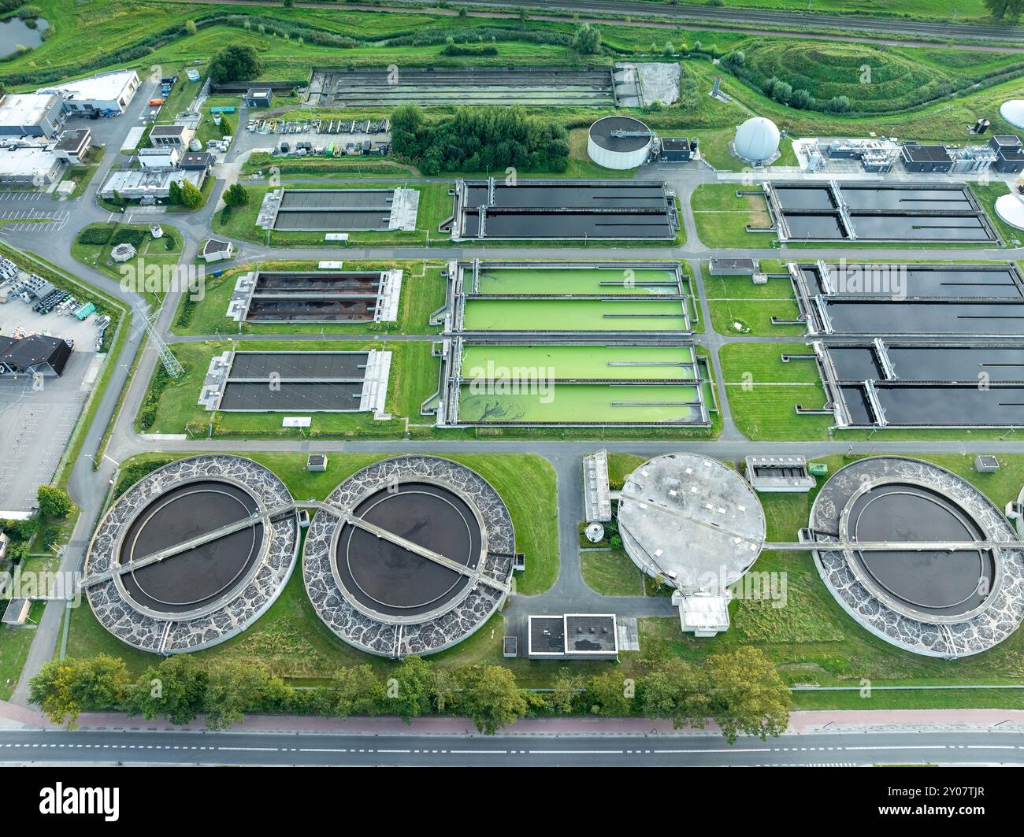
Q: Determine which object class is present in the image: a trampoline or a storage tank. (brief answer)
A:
storage tank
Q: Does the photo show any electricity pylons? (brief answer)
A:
Yes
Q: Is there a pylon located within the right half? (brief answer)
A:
No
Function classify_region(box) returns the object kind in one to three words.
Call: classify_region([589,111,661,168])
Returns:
storage tank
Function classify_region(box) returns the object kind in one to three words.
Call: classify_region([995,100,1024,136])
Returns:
storage tank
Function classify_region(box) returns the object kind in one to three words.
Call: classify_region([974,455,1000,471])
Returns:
shed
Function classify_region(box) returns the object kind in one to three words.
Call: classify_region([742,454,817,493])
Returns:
building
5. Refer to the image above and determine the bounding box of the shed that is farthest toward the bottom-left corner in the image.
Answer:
[1,598,32,625]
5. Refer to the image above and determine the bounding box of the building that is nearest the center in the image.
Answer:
[582,448,611,526]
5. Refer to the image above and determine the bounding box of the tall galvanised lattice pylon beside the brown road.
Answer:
[107,291,184,381]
